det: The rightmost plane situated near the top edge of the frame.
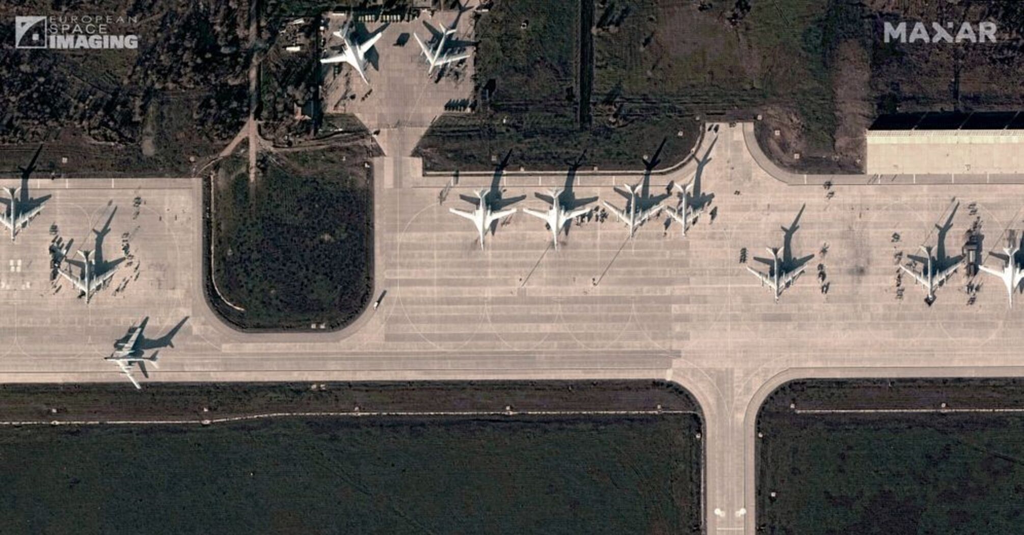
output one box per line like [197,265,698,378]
[414,21,470,74]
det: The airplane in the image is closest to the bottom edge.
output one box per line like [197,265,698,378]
[104,330,159,388]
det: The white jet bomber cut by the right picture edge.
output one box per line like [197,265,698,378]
[978,247,1024,306]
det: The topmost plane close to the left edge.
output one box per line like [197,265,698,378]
[0,184,42,239]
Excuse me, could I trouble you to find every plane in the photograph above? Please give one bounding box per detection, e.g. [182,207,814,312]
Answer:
[104,330,159,388]
[523,189,589,248]
[746,246,805,300]
[603,180,662,236]
[321,27,382,85]
[450,190,516,248]
[900,246,959,300]
[665,180,702,235]
[414,21,470,74]
[57,249,116,303]
[0,184,42,239]
[978,247,1024,306]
